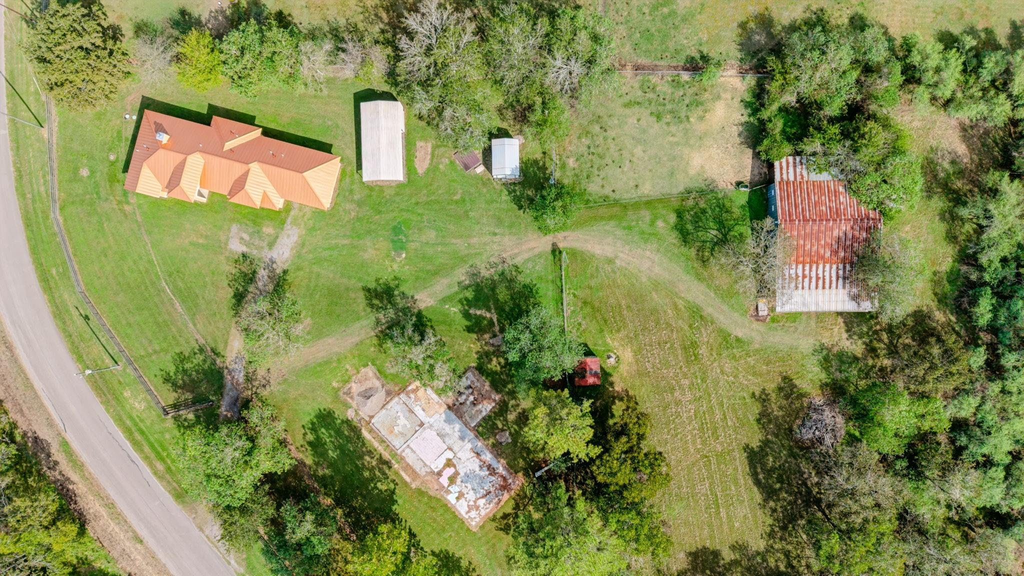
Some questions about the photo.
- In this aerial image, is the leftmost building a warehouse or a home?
home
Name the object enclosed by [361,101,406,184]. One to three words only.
shed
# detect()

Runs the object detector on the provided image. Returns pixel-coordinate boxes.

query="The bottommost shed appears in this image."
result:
[574,357,601,386]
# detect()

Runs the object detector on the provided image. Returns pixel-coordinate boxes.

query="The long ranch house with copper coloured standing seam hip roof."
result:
[125,109,342,214]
